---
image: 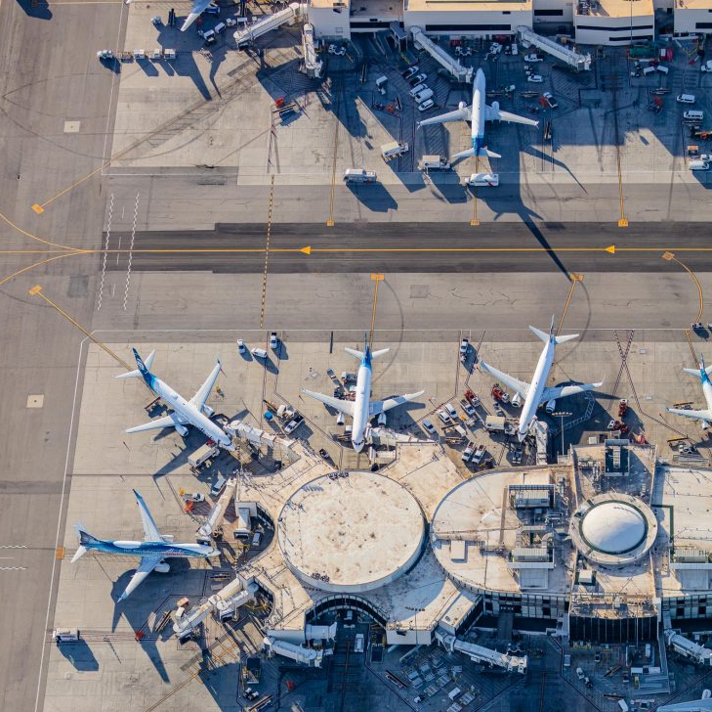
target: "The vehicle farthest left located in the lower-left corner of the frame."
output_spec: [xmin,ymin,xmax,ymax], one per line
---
[51,626,80,640]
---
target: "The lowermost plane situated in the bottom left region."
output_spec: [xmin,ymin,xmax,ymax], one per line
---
[73,489,222,601]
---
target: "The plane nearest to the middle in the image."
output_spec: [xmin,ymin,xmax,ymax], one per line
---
[302,335,426,456]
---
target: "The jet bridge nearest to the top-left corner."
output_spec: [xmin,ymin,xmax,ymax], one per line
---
[227,2,308,55]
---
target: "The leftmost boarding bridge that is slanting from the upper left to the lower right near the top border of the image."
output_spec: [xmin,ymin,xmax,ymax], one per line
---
[415,25,478,86]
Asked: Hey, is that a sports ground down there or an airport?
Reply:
airport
